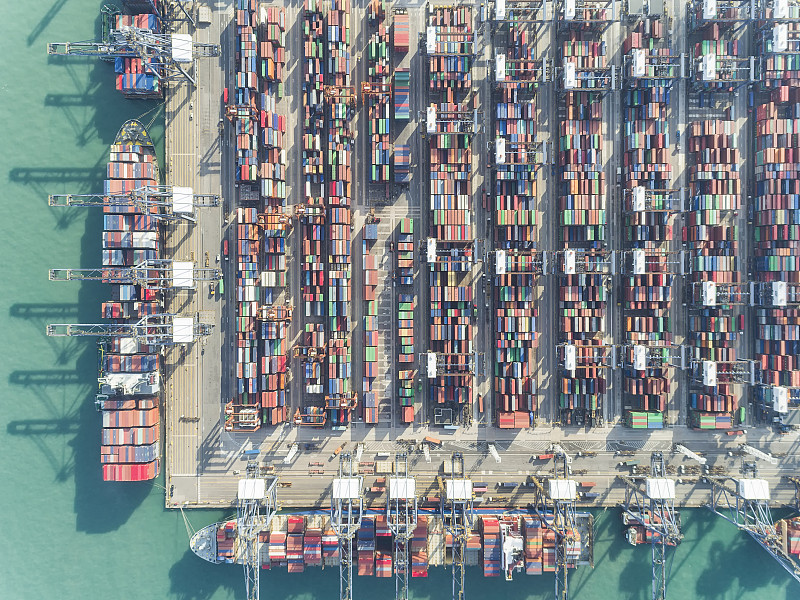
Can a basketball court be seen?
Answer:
No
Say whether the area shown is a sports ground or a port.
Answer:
port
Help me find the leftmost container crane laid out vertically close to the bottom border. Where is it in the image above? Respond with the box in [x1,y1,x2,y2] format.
[237,450,288,600]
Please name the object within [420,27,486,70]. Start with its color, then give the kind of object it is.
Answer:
white crane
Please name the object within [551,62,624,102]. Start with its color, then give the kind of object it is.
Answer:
white crane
